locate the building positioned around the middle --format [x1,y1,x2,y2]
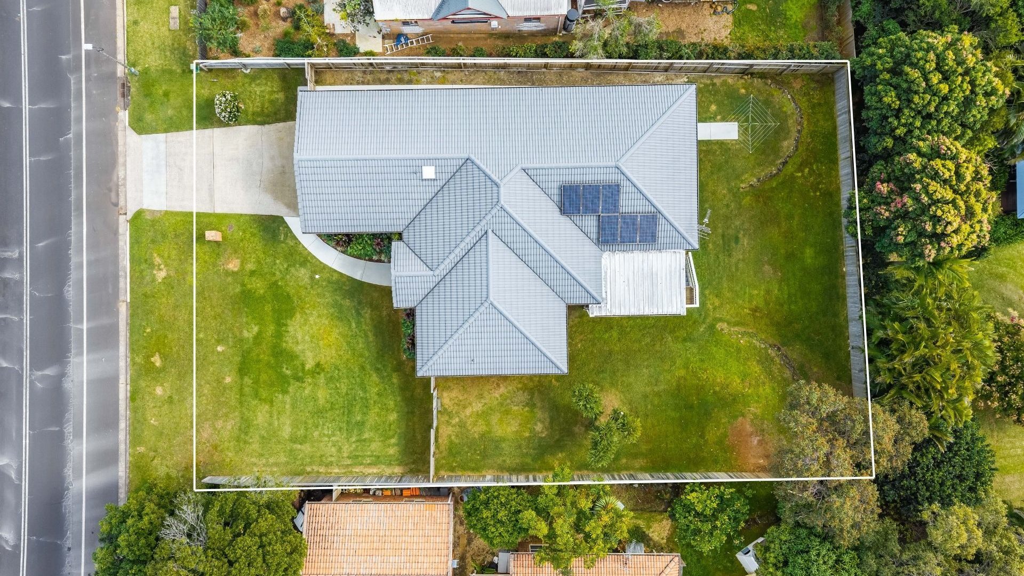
[289,81,701,379]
